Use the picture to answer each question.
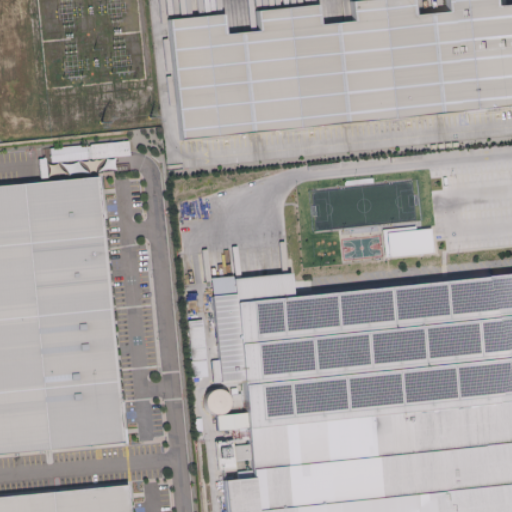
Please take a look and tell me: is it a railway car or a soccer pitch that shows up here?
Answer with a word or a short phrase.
soccer pitch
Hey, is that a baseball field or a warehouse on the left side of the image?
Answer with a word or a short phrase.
warehouse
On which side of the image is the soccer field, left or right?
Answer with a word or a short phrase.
right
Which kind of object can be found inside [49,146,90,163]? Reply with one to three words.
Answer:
building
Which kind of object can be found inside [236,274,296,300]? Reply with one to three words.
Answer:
building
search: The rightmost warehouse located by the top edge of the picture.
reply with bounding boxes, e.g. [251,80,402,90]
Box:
[169,0,512,138]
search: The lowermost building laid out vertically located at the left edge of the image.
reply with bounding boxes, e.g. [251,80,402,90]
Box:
[0,176,126,454]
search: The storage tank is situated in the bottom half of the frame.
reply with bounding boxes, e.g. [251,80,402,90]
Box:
[202,387,233,416]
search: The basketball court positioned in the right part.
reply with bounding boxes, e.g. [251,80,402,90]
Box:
[342,236,382,260]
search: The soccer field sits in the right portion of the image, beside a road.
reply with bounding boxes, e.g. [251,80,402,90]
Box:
[314,180,420,230]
